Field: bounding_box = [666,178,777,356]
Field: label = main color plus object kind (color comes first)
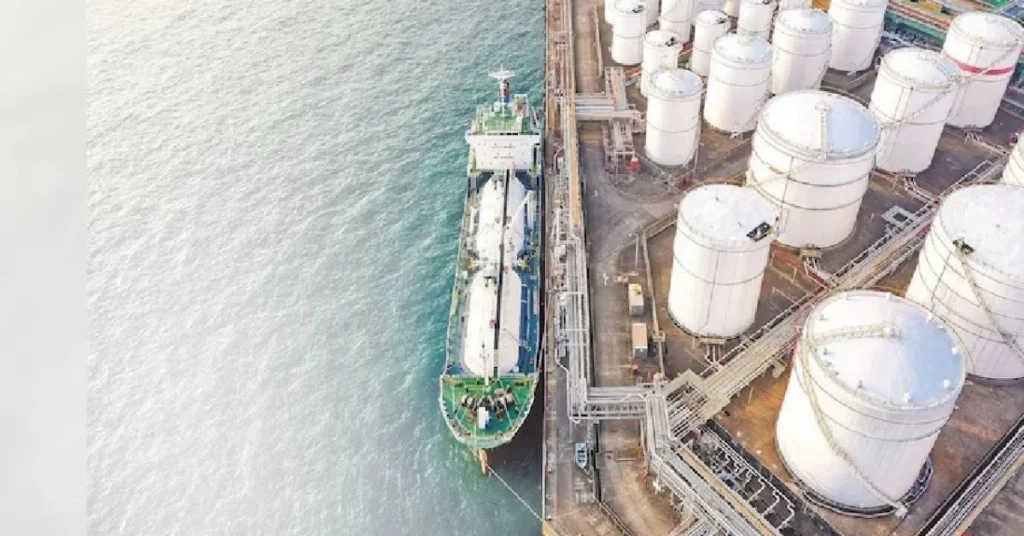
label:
white storage tank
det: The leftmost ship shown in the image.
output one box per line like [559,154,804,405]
[440,65,544,474]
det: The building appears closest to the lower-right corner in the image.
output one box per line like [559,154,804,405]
[633,326,652,359]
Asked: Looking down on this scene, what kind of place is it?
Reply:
industrial area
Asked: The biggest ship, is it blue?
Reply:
No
